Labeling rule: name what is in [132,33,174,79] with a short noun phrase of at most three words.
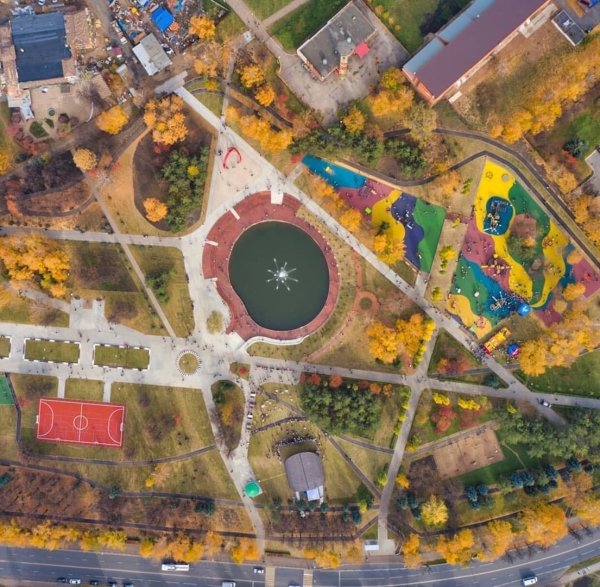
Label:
shed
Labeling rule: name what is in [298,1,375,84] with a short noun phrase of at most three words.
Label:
building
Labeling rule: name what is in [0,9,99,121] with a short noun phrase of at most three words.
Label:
house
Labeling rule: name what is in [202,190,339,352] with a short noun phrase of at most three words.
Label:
pond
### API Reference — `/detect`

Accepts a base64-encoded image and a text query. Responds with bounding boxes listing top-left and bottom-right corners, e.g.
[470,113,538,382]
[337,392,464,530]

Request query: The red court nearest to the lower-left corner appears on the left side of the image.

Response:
[36,397,127,448]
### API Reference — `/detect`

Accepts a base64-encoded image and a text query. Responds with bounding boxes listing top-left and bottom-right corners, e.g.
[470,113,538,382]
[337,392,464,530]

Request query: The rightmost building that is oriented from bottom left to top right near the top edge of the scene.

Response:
[400,0,553,103]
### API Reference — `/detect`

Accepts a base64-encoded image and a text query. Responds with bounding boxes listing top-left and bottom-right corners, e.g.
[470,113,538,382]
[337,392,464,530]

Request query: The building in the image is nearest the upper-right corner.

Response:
[551,10,585,48]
